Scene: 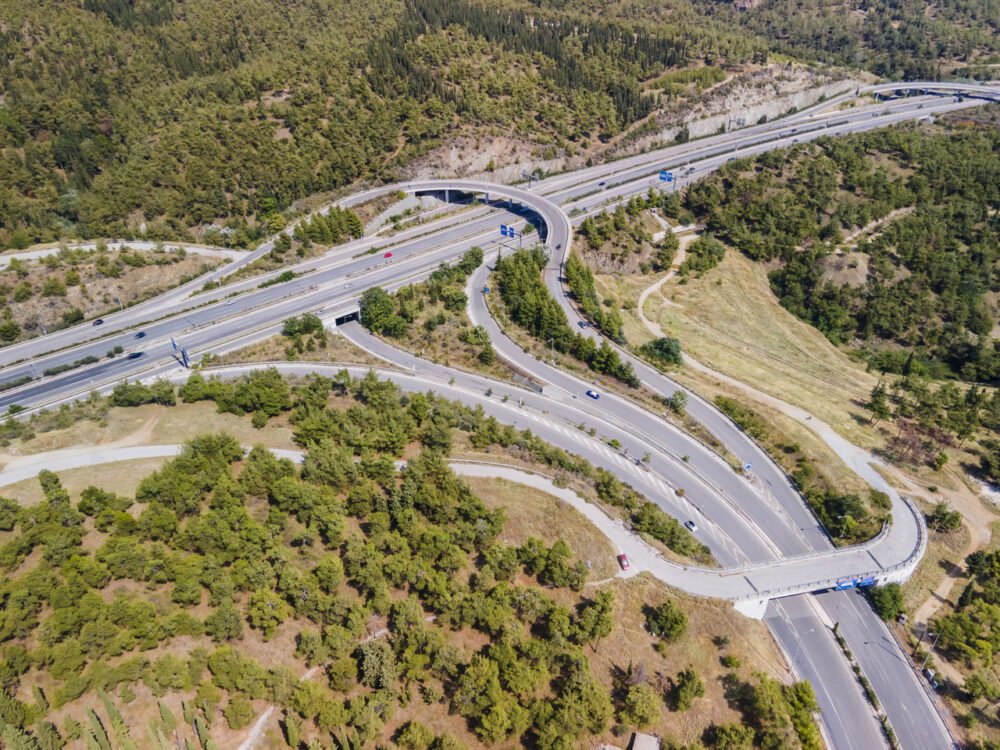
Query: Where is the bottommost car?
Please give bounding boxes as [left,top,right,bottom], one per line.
[615,554,629,572]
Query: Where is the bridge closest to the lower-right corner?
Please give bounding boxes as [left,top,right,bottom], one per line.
[723,461,922,619]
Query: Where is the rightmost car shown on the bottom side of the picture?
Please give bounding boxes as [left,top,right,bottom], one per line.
[682,519,699,534]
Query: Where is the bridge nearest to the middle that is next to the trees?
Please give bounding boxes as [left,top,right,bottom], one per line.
[413,178,571,259]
